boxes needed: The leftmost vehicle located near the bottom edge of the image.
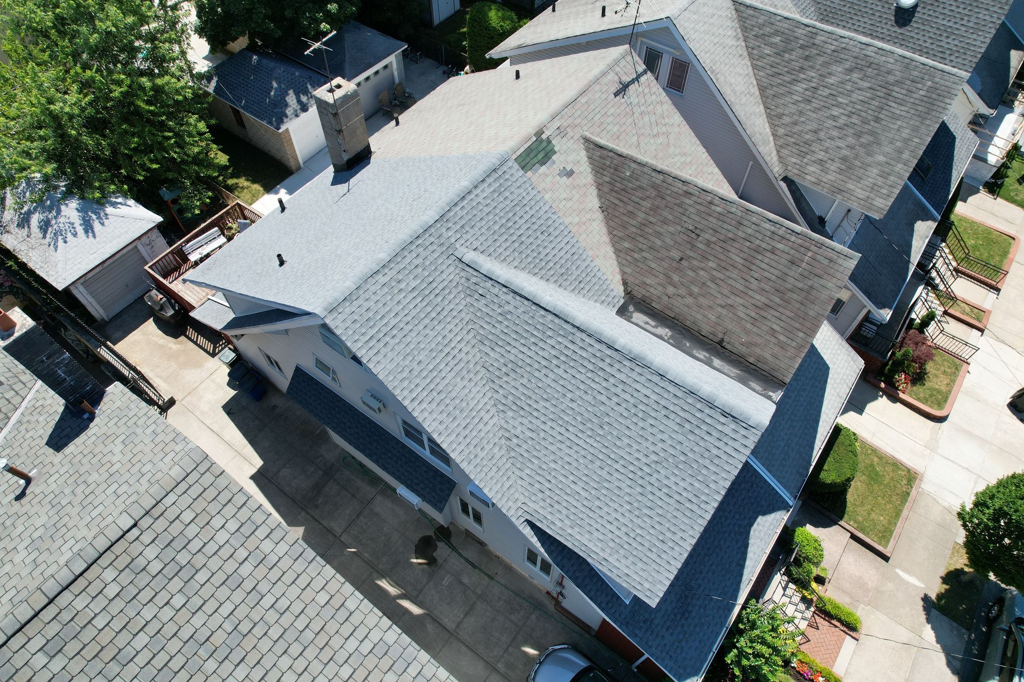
[526,634,631,682]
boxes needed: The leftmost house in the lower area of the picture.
[0,286,461,682]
